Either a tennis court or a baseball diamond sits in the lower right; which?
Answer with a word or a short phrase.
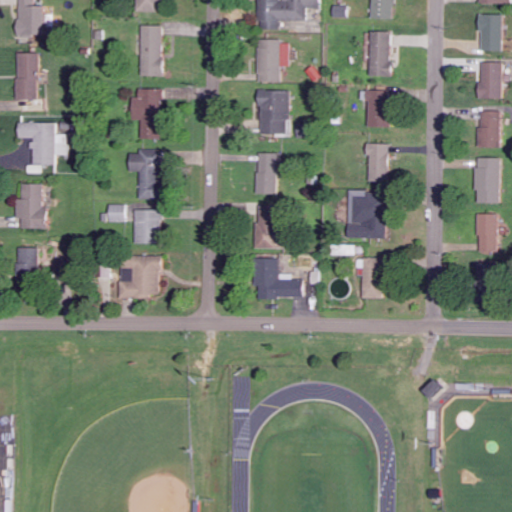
baseball diamond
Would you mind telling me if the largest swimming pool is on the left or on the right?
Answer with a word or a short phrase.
right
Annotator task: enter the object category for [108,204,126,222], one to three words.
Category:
shed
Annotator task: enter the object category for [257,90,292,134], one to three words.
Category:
house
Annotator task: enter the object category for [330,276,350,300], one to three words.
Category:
swimming pool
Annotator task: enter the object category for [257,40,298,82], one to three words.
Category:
house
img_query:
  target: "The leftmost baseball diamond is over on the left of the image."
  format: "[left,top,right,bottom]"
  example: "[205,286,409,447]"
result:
[52,397,194,512]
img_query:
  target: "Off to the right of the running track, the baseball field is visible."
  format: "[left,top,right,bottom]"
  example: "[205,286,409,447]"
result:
[436,394,512,512]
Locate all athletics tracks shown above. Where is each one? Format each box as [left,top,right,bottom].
[232,376,397,512]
